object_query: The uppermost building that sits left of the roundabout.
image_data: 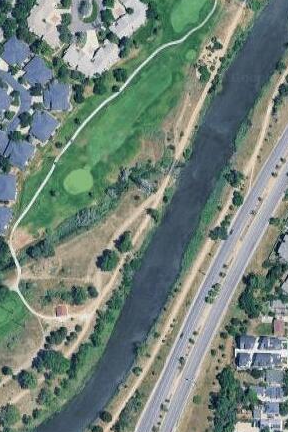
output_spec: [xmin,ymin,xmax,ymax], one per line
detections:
[27,0,62,49]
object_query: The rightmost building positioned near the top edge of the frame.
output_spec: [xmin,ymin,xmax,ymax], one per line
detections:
[108,0,148,35]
